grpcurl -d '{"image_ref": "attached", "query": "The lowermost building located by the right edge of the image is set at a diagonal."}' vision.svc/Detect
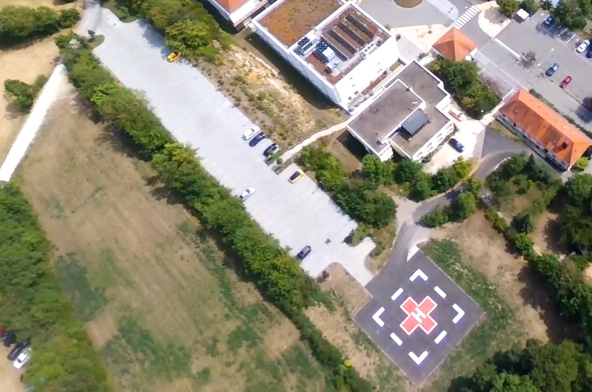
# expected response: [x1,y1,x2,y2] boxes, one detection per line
[499,88,592,173]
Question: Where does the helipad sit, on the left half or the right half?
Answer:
right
